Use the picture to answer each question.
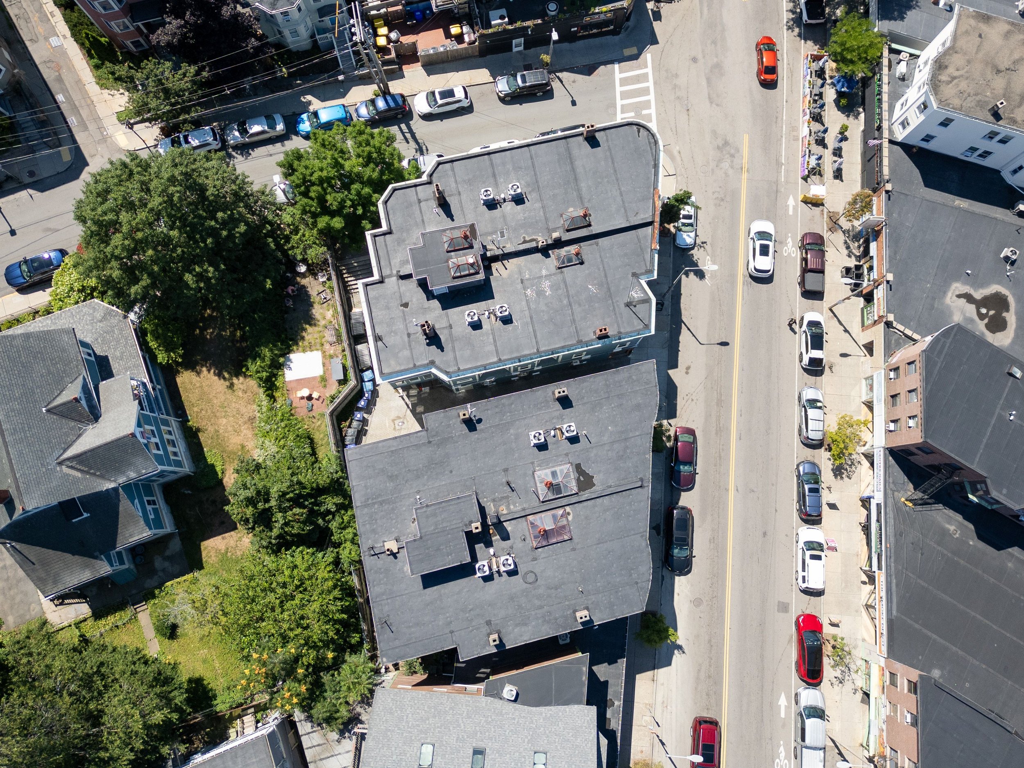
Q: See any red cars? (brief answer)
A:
Yes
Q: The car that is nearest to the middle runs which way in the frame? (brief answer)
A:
vertically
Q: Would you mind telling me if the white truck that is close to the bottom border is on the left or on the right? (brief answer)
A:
right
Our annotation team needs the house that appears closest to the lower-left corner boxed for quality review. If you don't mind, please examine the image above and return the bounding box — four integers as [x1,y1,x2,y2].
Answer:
[174,713,300,768]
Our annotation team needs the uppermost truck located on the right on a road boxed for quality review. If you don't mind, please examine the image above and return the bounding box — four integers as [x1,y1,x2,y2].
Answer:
[801,0,825,25]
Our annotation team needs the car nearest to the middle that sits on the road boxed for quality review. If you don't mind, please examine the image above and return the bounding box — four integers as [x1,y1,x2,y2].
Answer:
[671,427,699,489]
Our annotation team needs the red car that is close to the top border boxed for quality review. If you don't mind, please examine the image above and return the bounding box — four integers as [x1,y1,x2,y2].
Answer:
[755,36,779,85]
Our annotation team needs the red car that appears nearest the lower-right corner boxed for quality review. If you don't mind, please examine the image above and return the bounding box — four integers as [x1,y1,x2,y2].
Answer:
[796,613,826,684]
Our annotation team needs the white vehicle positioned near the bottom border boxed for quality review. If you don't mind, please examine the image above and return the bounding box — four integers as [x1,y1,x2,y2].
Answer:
[795,686,828,768]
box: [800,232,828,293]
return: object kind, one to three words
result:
truck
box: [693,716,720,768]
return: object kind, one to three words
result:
car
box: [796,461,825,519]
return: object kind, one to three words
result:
car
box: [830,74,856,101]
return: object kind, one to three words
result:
umbrella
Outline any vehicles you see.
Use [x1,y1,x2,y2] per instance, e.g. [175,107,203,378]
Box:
[801,0,825,25]
[402,146,445,174]
[796,613,826,684]
[671,427,699,489]
[797,526,827,592]
[795,686,828,768]
[755,36,779,85]
[748,220,776,278]
[798,387,827,444]
[796,461,825,519]
[800,312,828,368]
[666,505,695,573]
[414,88,470,118]
[693,716,720,768]
[225,117,287,150]
[158,128,221,159]
[354,93,410,124]
[675,195,699,249]
[800,232,828,293]
[296,106,352,136]
[534,122,585,138]
[3,249,69,286]
[495,69,551,99]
